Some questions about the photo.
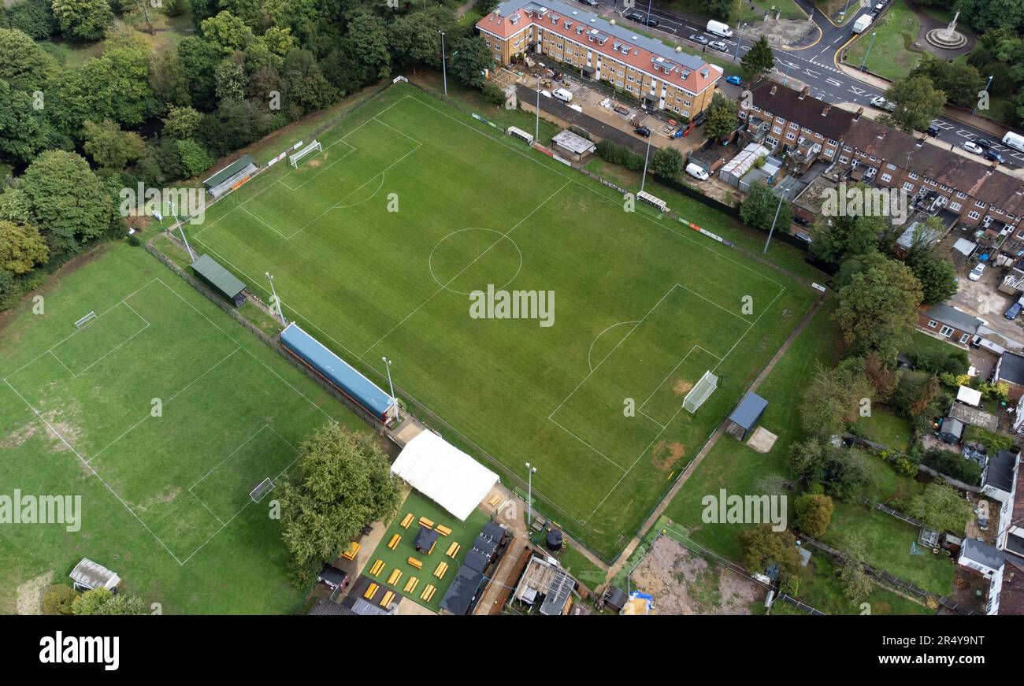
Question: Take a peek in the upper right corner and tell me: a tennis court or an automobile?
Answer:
automobile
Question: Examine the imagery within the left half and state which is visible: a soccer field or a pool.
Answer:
soccer field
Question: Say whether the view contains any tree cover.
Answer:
Yes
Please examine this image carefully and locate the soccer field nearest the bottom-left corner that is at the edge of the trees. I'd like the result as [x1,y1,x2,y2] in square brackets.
[5,277,339,564]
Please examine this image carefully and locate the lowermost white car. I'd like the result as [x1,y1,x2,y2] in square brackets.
[967,263,988,279]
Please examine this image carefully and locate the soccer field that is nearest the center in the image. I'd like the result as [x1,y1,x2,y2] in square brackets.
[169,81,821,557]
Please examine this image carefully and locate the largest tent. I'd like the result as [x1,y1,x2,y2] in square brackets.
[389,417,501,519]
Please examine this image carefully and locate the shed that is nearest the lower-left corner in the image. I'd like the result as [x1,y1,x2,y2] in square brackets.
[69,557,122,594]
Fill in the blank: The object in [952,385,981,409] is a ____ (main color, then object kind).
white gazebo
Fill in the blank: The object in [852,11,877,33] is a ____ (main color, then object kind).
white truck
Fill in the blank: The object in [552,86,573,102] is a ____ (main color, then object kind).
white vehicle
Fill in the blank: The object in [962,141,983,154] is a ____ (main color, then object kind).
white vehicle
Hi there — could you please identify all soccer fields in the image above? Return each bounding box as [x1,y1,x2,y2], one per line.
[169,81,821,557]
[5,277,339,564]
